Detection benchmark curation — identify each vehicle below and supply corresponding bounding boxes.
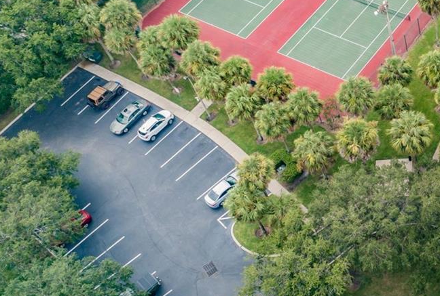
[65,204,96,239]
[106,98,148,132]
[82,77,122,106]
[200,167,241,205]
[130,262,165,296]
[133,108,173,140]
